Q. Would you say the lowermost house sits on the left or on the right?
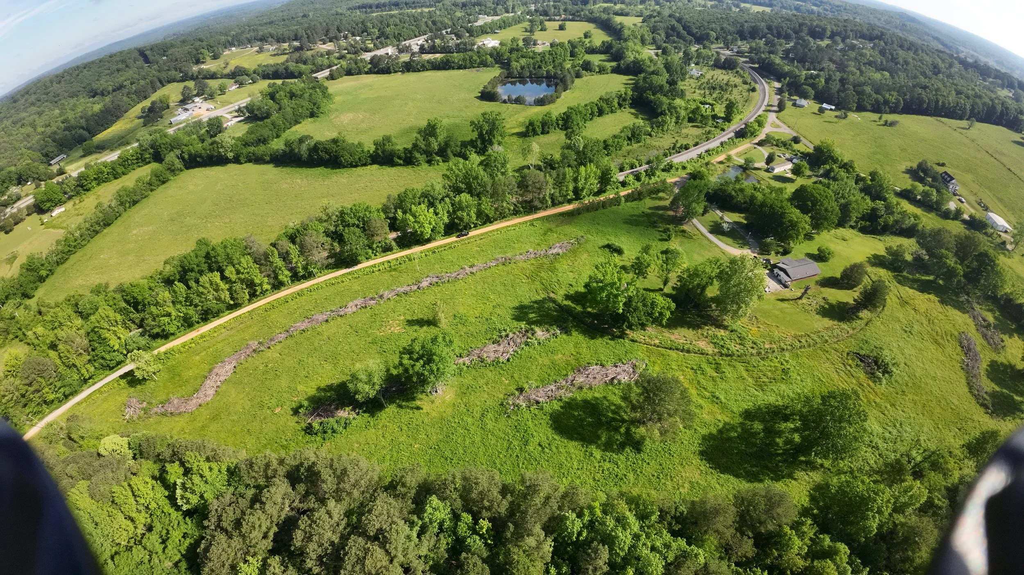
right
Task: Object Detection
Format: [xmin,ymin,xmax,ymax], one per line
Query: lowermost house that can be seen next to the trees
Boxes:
[772,250,821,282]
